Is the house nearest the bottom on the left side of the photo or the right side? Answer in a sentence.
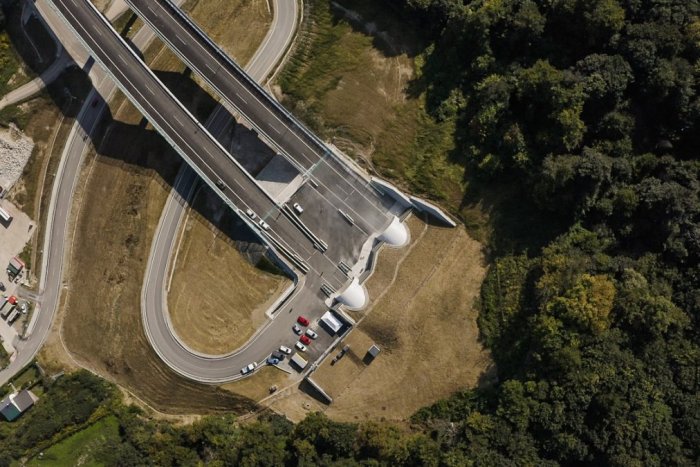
The house nearest the bottom is on the left side of the image.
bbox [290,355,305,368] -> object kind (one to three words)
vehicle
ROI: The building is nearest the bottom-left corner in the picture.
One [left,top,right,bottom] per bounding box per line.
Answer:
[0,389,38,422]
